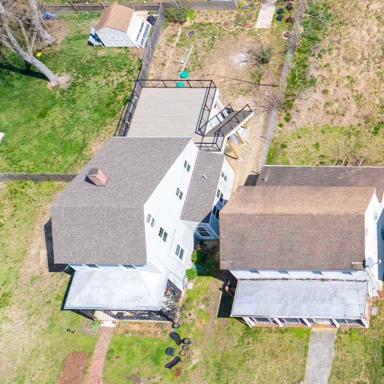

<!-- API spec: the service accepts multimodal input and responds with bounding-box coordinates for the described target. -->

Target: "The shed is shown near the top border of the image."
[95,3,141,44]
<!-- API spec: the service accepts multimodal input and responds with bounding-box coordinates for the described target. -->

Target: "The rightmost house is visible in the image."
[218,166,384,328]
